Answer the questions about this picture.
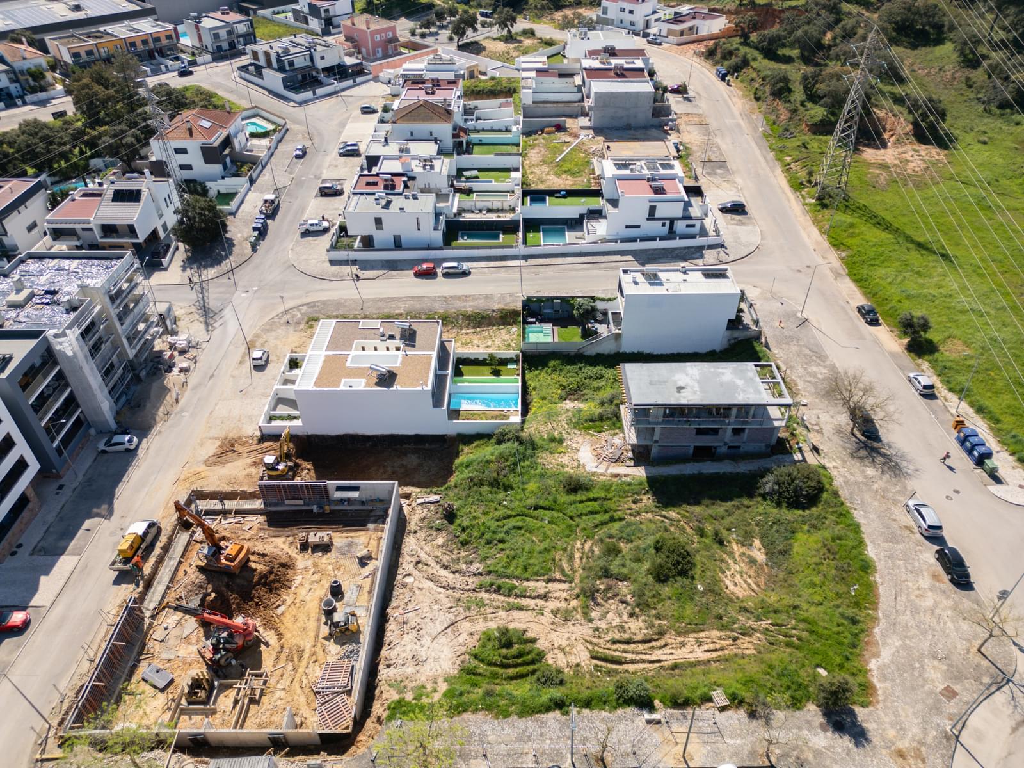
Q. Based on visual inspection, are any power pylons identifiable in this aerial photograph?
Yes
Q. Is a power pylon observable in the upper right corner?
Yes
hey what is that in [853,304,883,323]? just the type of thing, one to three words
car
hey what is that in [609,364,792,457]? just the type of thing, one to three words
house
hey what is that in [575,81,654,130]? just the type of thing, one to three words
house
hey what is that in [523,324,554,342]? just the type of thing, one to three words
swimming pool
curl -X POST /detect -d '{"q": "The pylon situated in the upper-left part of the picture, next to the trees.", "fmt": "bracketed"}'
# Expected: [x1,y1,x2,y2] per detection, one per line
[147,79,195,204]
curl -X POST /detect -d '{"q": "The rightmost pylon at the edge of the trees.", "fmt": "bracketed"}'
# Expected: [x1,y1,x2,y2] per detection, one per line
[817,24,899,200]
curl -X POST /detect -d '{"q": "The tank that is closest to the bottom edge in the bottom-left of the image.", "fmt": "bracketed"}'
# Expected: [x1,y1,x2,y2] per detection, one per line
[139,663,175,697]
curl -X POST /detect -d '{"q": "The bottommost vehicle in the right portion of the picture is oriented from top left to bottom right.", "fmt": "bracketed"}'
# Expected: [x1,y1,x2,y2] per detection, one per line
[926,542,981,589]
